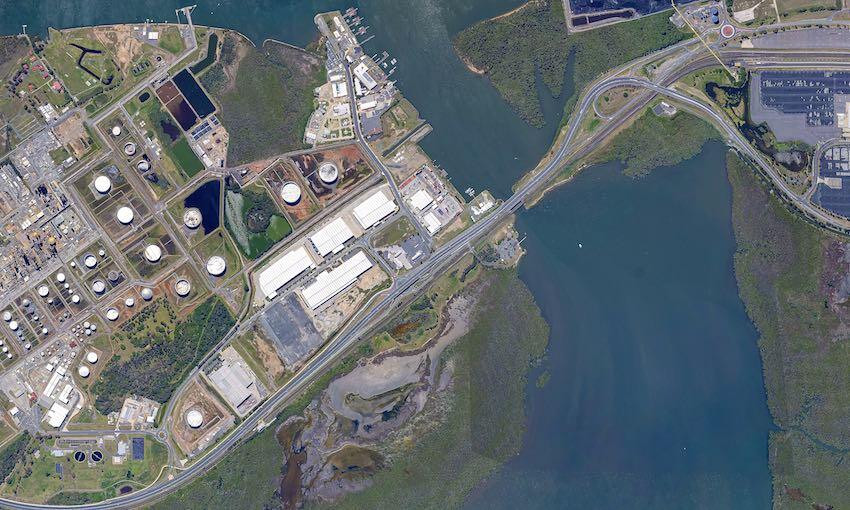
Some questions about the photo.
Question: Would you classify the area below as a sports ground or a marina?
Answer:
marina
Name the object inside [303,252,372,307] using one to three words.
building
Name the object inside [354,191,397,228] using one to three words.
building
